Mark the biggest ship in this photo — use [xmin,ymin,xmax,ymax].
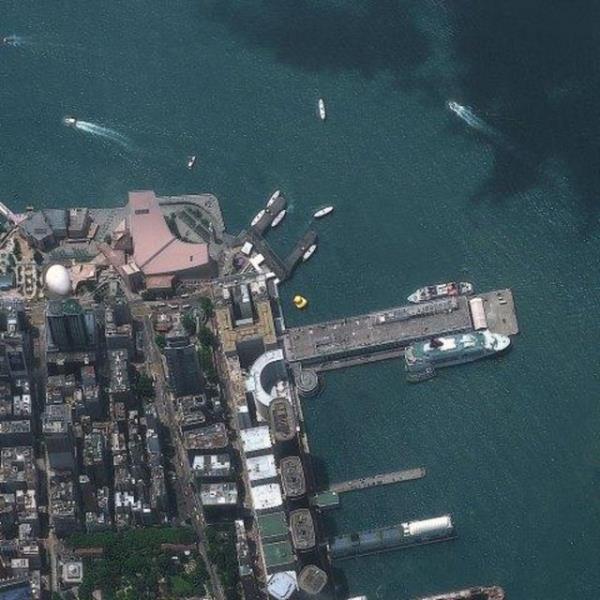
[405,332,511,369]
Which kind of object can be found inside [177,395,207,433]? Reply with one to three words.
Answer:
building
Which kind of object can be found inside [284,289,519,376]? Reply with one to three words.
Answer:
pier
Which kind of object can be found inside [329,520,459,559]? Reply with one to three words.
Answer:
pier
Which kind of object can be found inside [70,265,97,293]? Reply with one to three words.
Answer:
building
